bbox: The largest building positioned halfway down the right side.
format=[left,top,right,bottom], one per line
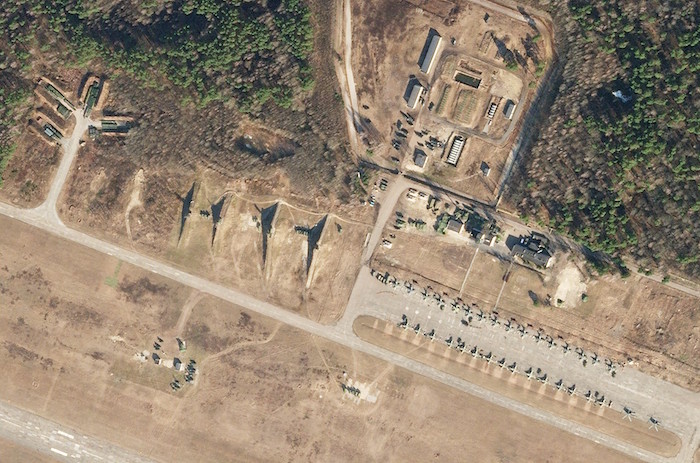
[511,244,552,265]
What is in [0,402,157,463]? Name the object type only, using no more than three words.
runway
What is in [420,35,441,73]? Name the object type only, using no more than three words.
building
